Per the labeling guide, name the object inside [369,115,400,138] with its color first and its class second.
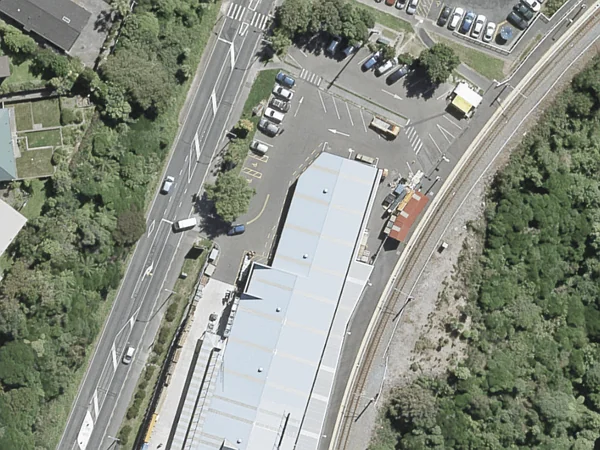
white truck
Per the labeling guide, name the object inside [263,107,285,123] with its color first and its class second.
white car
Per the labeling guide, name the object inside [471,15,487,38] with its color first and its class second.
white car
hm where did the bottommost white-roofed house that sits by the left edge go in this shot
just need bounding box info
[0,198,28,253]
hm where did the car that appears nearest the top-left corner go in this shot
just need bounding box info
[160,173,176,195]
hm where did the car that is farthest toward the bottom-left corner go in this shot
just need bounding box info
[122,343,136,366]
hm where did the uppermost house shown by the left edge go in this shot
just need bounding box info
[0,0,91,52]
